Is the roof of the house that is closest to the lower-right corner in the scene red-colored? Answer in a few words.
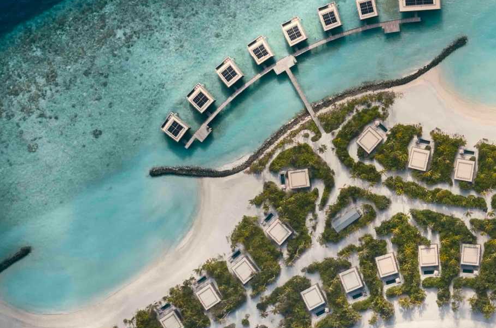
No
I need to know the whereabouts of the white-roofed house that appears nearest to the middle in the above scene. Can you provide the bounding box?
[279,167,312,190]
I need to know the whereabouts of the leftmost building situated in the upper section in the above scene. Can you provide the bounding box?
[161,113,192,141]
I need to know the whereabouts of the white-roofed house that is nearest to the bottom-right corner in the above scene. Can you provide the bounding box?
[459,243,482,276]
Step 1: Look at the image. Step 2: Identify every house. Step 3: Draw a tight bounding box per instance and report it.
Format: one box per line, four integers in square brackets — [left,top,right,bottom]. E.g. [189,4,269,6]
[356,0,379,25]
[408,136,433,171]
[357,119,390,154]
[459,243,482,276]
[215,57,246,87]
[193,275,223,310]
[418,244,441,277]
[375,252,403,287]
[339,266,369,301]
[226,248,259,283]
[317,2,343,33]
[246,36,276,66]
[161,113,192,141]
[187,84,217,114]
[279,167,312,190]
[454,149,478,181]
[281,17,308,46]
[260,210,294,244]
[399,0,441,11]
[156,299,187,328]
[301,284,333,319]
